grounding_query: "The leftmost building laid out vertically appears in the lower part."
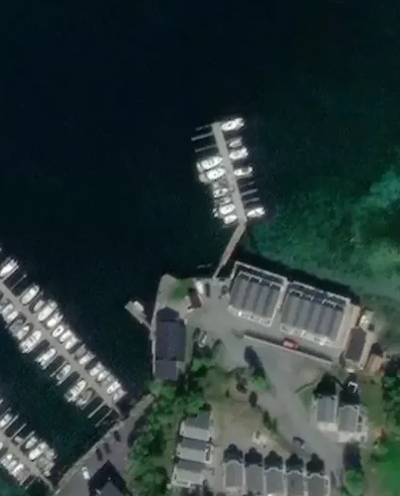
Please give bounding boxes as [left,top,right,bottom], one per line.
[155,309,187,382]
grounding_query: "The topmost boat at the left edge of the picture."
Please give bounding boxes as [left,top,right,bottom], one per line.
[0,260,17,276]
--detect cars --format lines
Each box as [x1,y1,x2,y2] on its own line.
[204,284,211,297]
[113,430,122,444]
[80,468,90,481]
[192,328,201,340]
[283,340,297,348]
[293,437,306,446]
[199,332,208,345]
[94,448,104,461]
[103,442,112,455]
